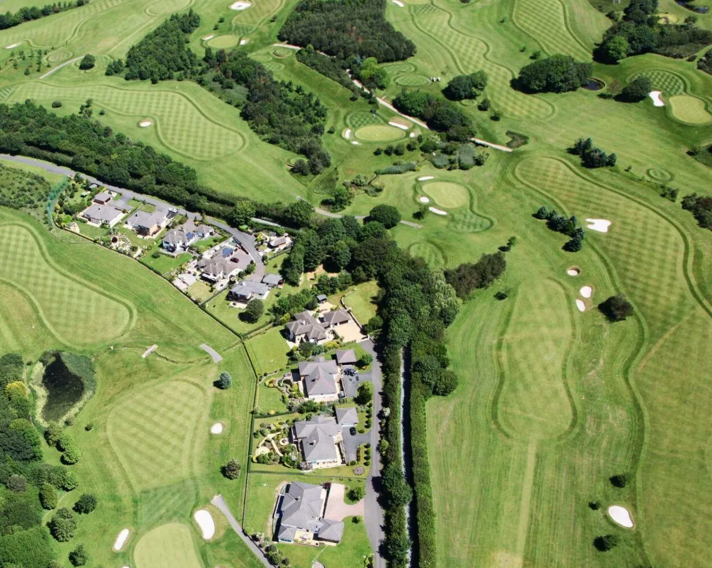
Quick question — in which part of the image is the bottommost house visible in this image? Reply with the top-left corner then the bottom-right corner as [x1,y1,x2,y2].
[277,478,344,544]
